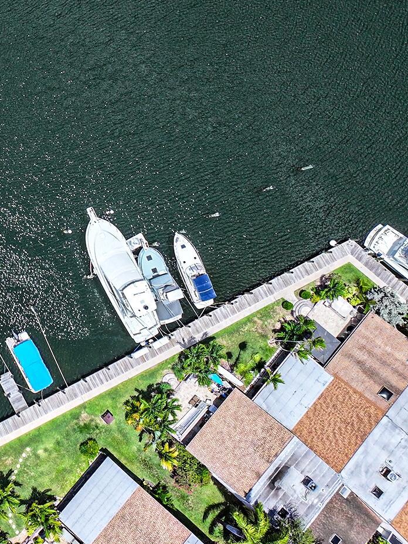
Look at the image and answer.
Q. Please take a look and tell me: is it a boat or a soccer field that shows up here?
boat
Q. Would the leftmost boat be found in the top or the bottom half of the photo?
bottom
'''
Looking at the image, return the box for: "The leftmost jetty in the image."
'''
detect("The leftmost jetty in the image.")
[0,371,28,413]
